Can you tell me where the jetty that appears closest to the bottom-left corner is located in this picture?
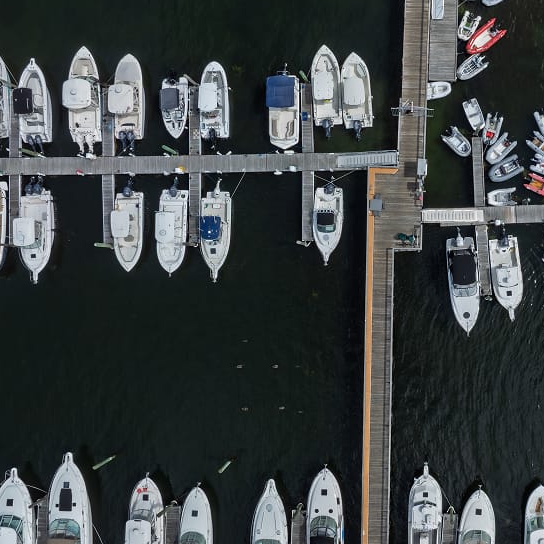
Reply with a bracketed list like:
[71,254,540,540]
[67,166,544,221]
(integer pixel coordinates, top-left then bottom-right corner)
[36,496,51,544]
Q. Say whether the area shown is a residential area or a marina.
marina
